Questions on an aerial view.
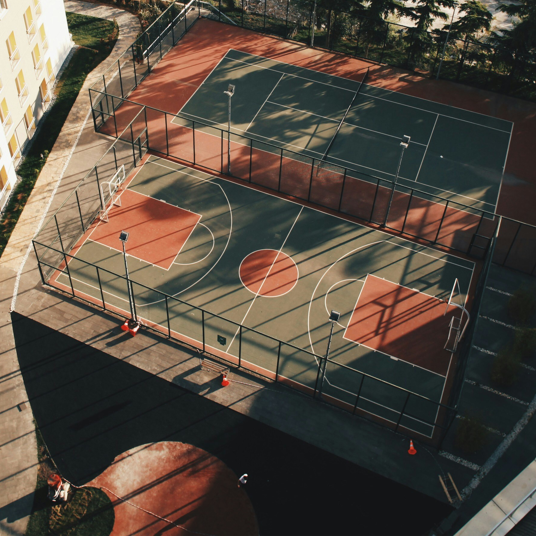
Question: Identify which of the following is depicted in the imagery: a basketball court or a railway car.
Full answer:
This aerial view contains a basketball court.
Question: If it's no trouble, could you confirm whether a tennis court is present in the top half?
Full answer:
Yes, you'll find a tennis court in the top half.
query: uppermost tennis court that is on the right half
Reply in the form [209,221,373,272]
[173,50,512,219]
